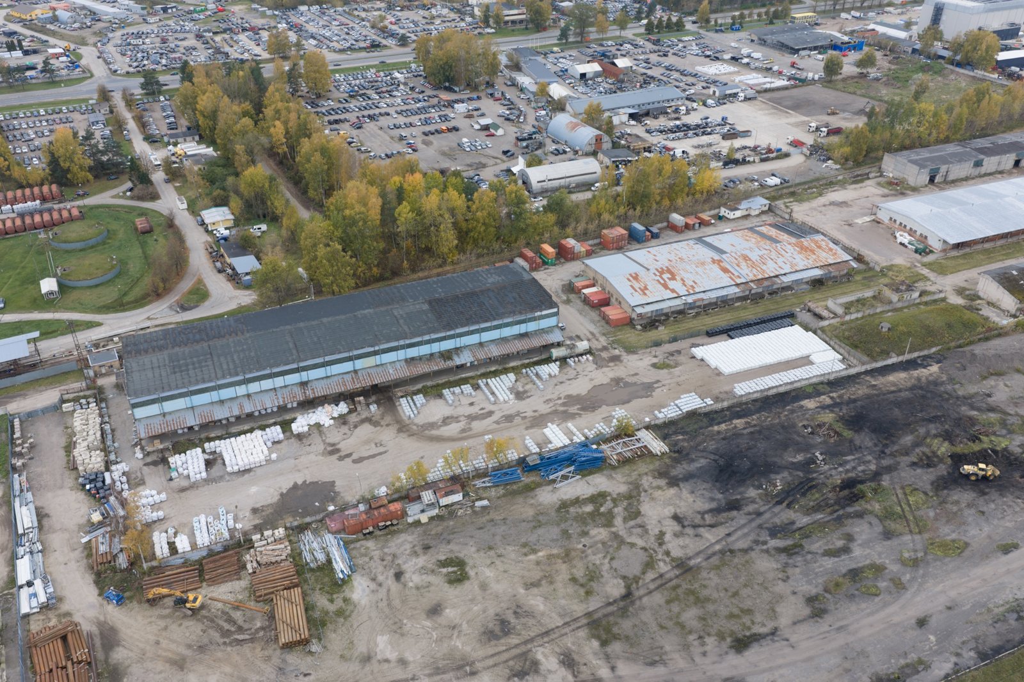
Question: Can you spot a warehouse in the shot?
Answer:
Yes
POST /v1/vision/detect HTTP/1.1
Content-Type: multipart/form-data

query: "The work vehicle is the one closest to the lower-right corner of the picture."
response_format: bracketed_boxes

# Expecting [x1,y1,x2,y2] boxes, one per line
[956,462,1003,484]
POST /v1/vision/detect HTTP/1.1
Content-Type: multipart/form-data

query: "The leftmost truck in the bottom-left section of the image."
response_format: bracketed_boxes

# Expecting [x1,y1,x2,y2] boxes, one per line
[102,584,126,609]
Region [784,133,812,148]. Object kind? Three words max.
vehicle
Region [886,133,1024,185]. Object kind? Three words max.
building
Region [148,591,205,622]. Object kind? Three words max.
work vehicle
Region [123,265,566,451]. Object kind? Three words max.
warehouse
